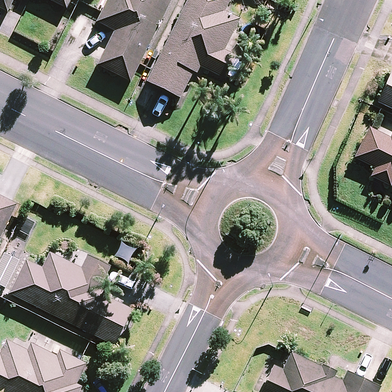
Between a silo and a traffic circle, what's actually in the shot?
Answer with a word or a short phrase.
traffic circle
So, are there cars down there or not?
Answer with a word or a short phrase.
Yes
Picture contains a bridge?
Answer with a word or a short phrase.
No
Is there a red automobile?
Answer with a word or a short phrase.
No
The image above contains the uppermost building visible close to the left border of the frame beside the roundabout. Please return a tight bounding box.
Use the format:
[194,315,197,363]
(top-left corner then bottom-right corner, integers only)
[5,252,133,343]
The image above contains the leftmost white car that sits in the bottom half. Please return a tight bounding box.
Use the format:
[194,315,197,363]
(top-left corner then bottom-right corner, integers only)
[357,352,372,375]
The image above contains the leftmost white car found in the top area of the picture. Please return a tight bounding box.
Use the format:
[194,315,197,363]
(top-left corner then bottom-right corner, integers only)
[84,30,106,47]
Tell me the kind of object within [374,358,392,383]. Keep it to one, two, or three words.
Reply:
car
